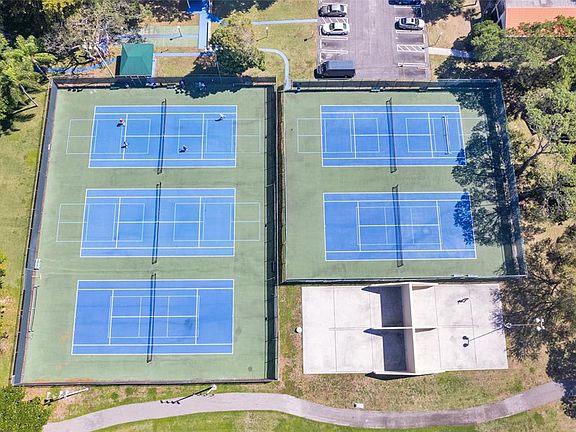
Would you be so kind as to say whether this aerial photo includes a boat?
No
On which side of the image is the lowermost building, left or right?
left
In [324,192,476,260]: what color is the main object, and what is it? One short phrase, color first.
blue tennis court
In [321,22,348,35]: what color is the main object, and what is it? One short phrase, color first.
white vehicle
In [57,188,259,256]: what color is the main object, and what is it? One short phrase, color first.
blue tennis court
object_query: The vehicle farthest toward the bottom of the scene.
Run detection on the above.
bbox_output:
[318,59,356,76]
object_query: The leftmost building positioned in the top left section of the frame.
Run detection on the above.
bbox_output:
[119,44,157,79]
